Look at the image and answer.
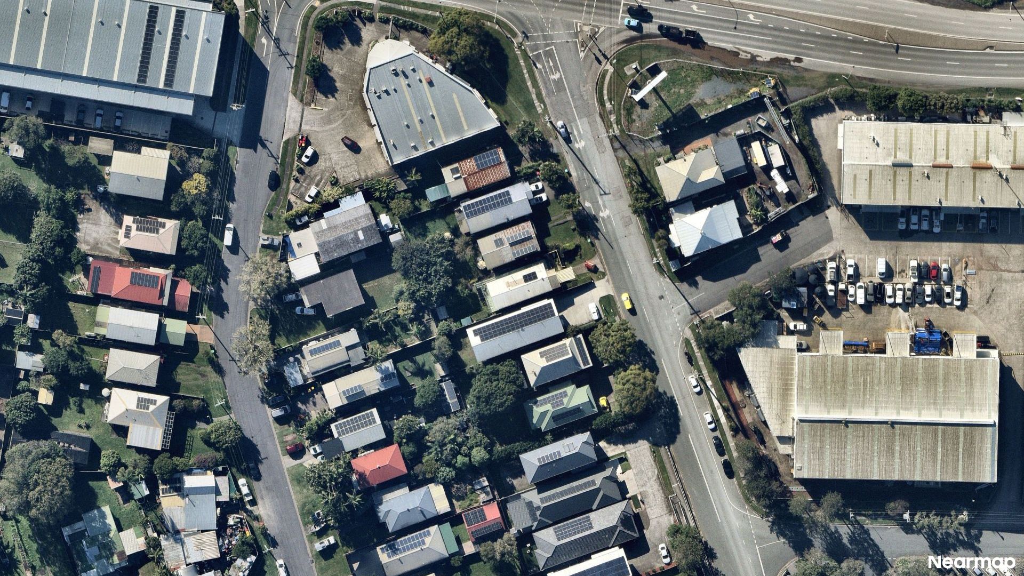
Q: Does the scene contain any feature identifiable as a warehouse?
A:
Yes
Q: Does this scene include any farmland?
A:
No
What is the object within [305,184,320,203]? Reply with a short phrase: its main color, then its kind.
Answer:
white car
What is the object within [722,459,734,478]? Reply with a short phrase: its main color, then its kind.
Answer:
black vehicle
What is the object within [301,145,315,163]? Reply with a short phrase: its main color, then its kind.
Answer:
white car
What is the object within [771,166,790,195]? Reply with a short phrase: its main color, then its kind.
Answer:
white vehicle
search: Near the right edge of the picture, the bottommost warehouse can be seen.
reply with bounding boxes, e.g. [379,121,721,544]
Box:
[739,321,1002,488]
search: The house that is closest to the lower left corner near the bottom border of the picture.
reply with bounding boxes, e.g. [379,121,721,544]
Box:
[61,505,128,576]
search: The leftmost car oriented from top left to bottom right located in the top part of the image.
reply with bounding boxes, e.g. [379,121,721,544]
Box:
[340,135,359,151]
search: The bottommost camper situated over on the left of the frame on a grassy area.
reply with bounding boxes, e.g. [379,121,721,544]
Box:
[316,537,334,549]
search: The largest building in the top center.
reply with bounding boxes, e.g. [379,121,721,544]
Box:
[362,39,500,164]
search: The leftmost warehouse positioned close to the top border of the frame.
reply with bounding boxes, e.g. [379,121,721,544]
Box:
[0,0,225,114]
